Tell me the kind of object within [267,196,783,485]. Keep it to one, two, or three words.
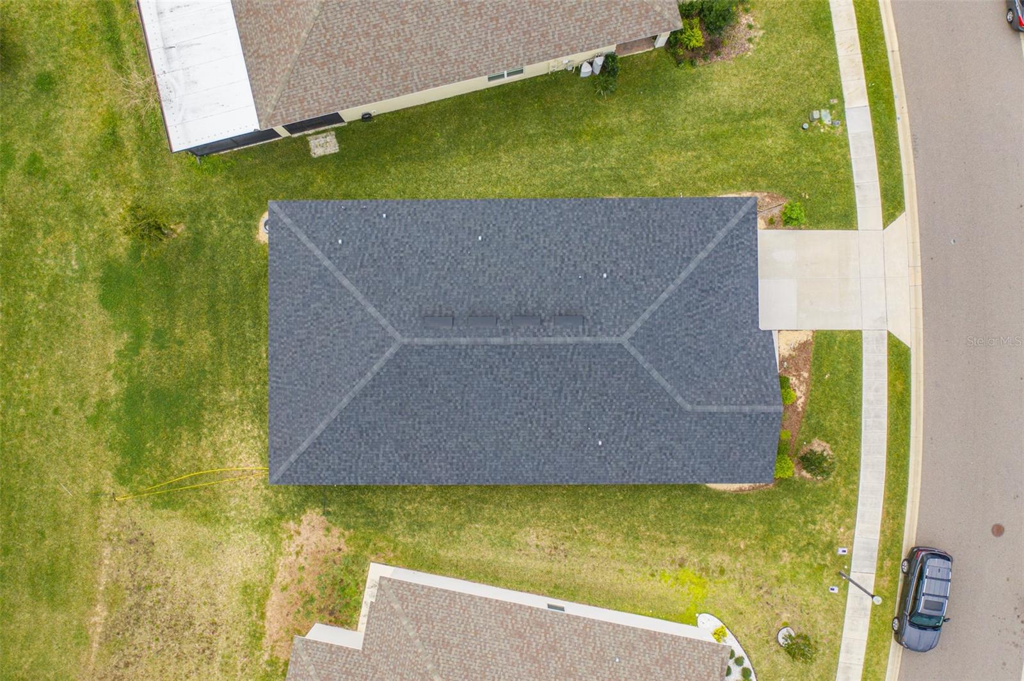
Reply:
house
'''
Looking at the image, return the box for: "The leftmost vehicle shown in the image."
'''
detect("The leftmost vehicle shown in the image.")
[889,544,955,654]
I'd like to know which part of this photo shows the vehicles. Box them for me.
[1004,0,1024,38]
[889,544,955,654]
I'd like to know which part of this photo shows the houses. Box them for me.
[267,196,783,485]
[285,565,730,681]
[133,0,683,168]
